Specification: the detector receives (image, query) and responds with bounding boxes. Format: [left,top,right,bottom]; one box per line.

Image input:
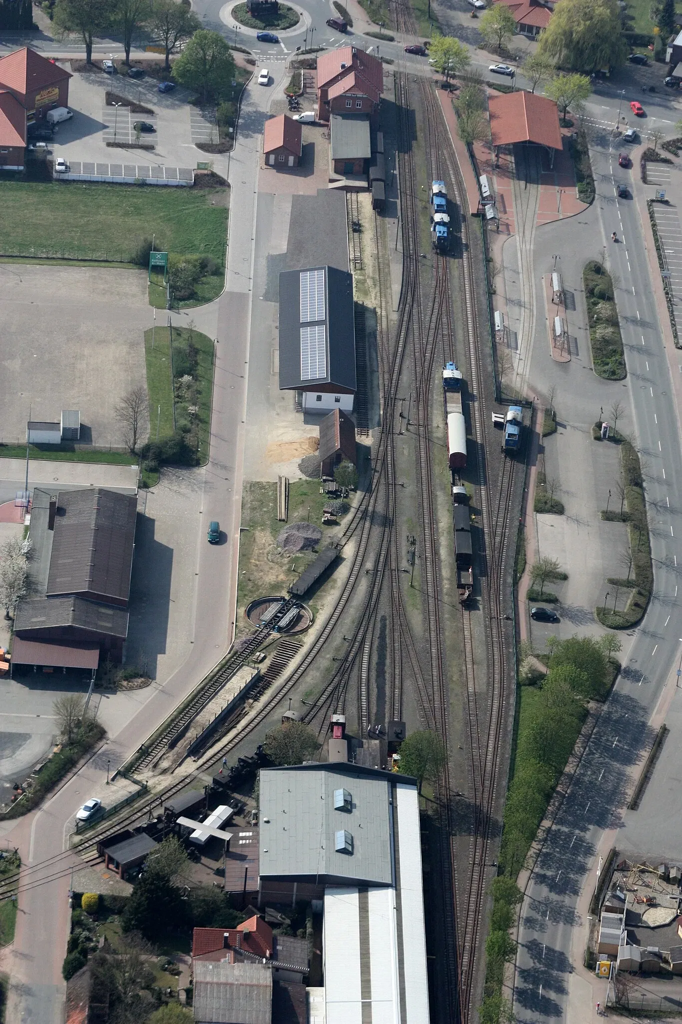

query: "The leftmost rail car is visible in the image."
[95,805,152,846]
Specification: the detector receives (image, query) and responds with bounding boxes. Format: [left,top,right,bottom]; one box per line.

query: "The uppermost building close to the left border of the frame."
[0,45,73,112]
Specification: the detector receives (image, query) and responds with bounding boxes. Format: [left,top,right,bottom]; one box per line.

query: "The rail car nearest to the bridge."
[283,540,340,600]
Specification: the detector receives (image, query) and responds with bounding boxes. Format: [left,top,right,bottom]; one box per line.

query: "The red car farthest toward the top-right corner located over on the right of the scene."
[631,104,644,116]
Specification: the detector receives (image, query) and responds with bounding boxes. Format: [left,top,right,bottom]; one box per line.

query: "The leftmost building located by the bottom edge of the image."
[66,971,109,1024]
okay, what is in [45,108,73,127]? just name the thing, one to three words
vehicle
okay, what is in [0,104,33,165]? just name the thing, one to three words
building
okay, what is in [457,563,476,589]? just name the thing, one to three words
rail car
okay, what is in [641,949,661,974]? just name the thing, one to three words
shed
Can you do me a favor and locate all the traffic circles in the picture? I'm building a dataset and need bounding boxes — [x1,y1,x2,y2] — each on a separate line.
[187,0,345,53]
